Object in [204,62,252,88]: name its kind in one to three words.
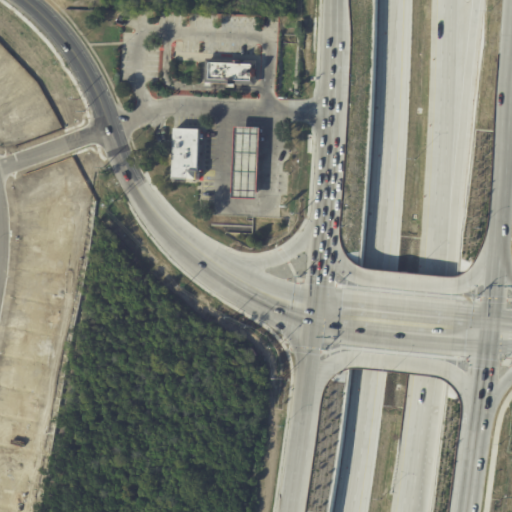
building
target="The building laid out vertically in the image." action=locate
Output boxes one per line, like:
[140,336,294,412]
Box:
[172,128,198,186]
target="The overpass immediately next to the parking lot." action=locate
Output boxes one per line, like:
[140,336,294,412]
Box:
[320,229,512,410]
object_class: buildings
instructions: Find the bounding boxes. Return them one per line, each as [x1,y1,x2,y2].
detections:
[172,128,198,186]
[204,62,252,88]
